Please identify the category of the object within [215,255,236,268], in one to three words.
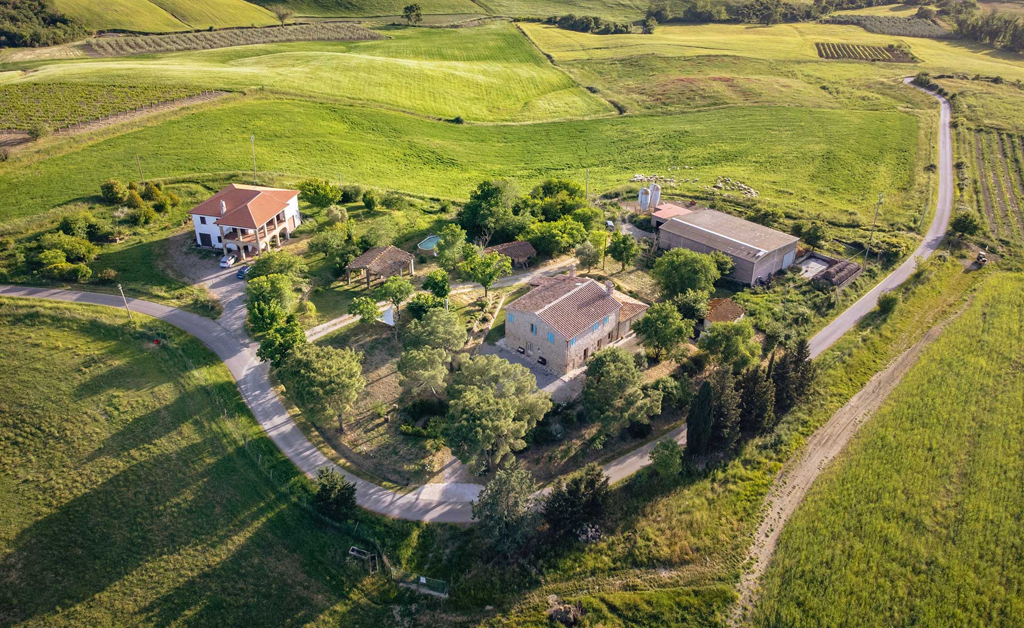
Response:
vehicle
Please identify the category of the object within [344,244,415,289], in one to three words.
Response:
barn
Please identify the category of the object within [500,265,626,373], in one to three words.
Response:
house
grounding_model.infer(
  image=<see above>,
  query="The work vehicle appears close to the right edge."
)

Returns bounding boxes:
[974,252,994,268]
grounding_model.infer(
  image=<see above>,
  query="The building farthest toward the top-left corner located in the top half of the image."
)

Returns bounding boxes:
[187,184,302,259]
